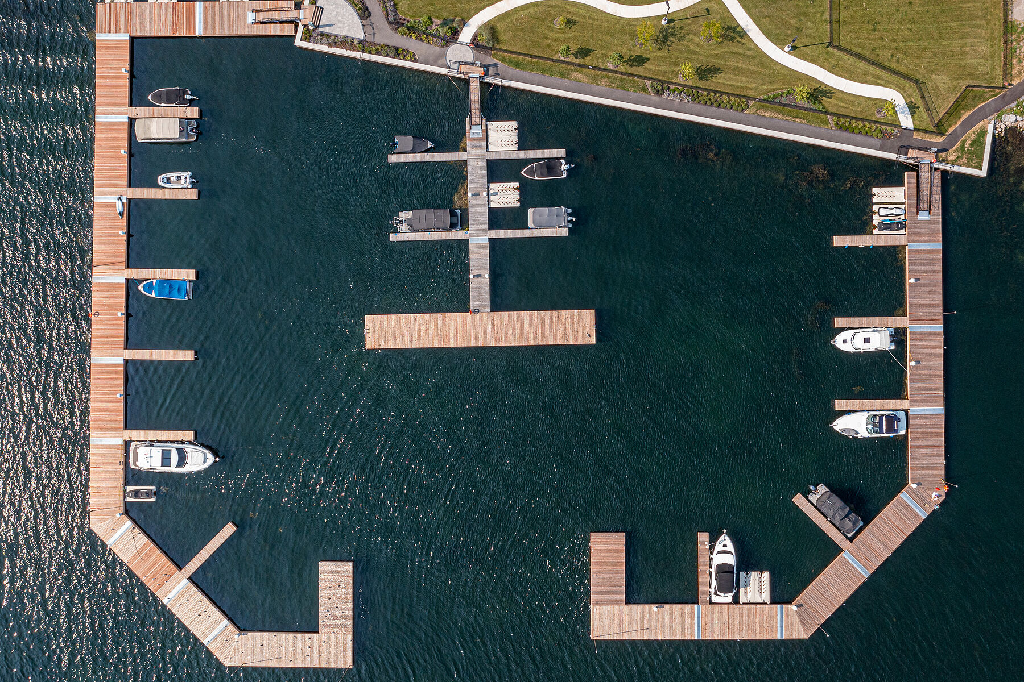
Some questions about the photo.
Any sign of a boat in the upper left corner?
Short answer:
Yes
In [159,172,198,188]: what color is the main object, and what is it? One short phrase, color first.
white boat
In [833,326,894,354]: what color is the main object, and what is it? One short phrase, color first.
white boat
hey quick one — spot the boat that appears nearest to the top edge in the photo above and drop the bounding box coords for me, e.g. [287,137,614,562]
[149,86,199,107]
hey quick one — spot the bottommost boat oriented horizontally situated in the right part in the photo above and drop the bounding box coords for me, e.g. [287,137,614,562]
[831,410,908,439]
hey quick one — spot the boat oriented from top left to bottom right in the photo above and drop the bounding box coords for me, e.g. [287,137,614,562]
[804,481,863,536]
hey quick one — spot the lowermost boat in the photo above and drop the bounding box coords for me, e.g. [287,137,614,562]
[709,531,737,604]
